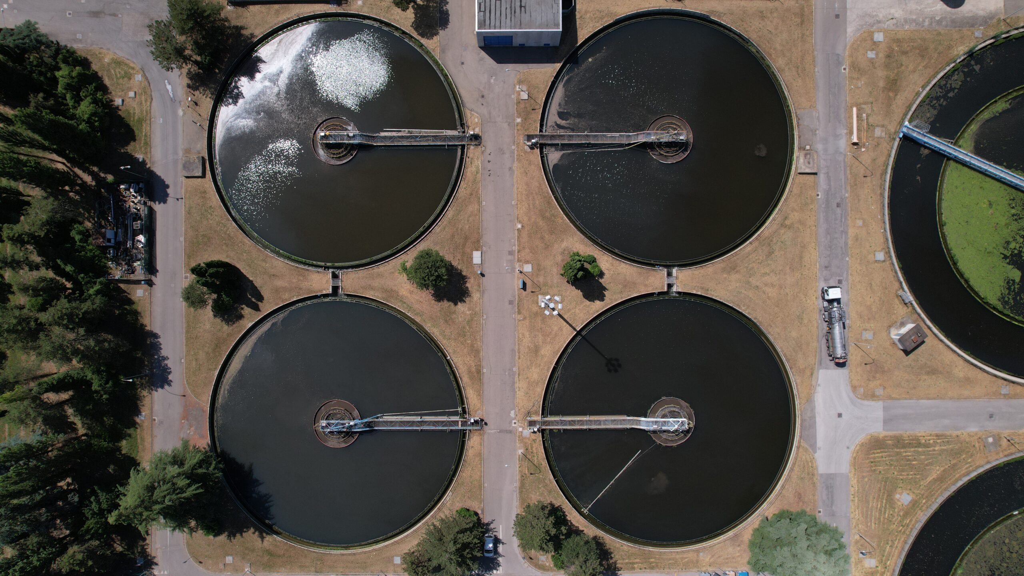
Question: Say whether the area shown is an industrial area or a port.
industrial area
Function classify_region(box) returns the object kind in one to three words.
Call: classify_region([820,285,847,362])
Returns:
truck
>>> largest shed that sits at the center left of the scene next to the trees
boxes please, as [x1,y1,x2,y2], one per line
[91,229,119,246]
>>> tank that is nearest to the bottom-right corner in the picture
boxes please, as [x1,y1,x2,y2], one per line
[541,291,802,552]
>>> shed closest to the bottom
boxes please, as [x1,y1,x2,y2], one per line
[890,323,929,353]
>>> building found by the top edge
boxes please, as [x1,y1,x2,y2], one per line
[475,0,562,49]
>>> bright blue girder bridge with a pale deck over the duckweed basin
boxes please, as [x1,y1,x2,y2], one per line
[896,118,1024,190]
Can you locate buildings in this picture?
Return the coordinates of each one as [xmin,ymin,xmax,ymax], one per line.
[91,229,119,246]
[475,0,562,49]
[890,323,929,353]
